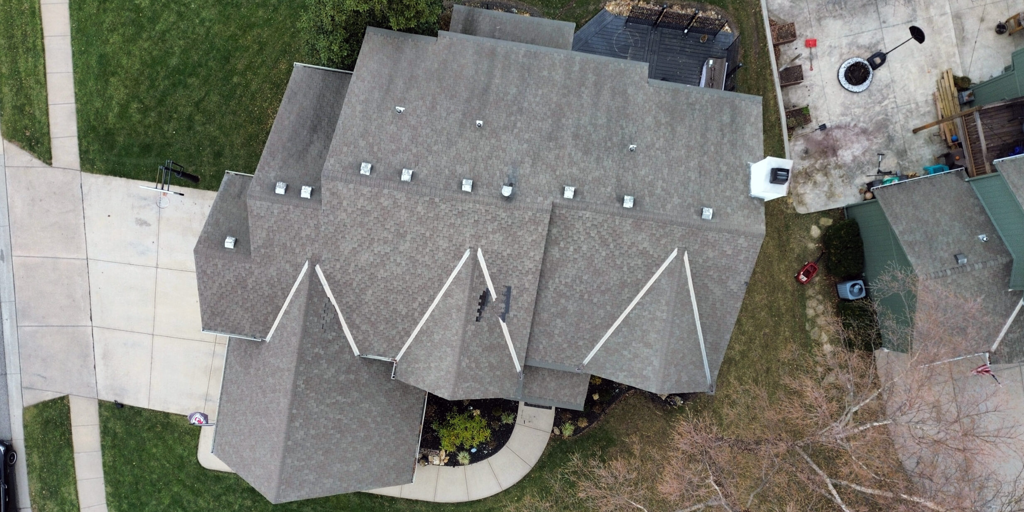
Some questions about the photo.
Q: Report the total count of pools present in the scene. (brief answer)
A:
none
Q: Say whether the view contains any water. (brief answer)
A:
No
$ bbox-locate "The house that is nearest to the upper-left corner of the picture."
[194,3,795,504]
